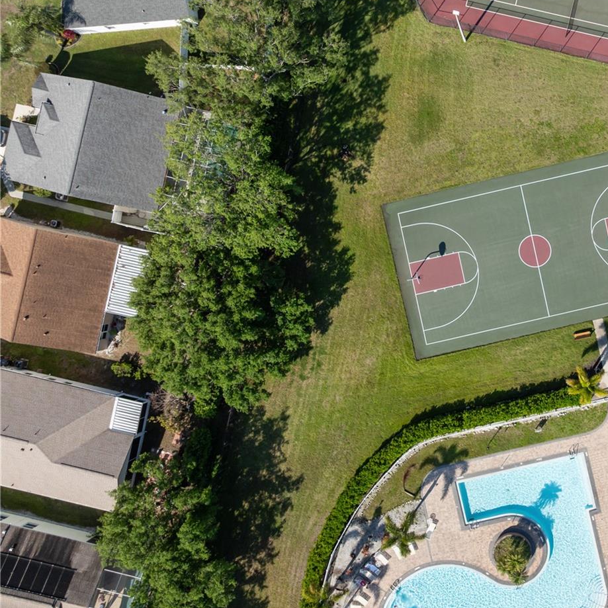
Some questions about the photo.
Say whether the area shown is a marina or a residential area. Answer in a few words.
residential area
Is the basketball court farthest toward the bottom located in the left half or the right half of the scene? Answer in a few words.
right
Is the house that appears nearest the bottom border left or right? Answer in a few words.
left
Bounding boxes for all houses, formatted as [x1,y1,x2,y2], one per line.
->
[0,222,147,354]
[3,73,243,210]
[62,0,197,32]
[0,367,157,511]
[0,514,131,608]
